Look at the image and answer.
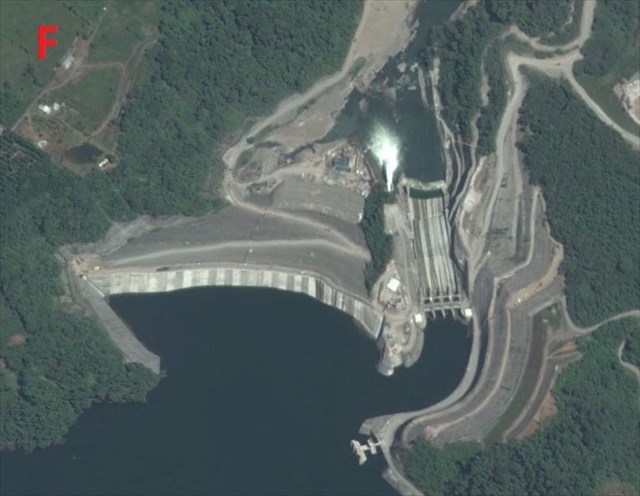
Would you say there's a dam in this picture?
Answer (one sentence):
Yes, a dam can be made out from above.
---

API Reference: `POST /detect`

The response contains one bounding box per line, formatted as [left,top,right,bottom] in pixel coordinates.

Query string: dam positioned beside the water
[76,205,384,339]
